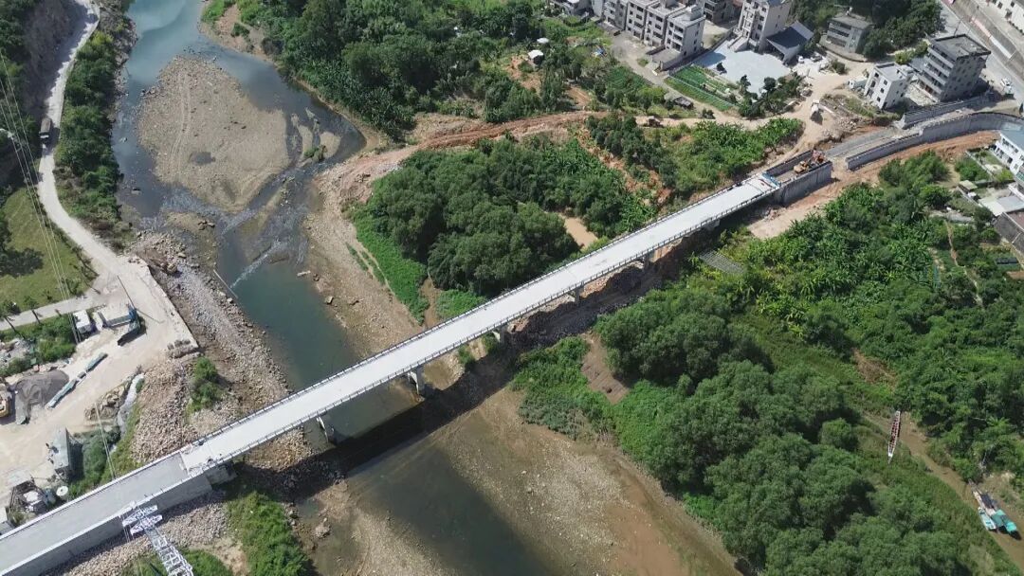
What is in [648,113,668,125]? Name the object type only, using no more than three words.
vehicle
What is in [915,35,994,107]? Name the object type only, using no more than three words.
building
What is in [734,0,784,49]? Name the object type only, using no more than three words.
house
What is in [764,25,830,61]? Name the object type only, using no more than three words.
building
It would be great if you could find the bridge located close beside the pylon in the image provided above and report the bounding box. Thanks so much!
[179,171,781,482]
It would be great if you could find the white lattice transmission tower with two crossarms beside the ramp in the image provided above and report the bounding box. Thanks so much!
[120,508,198,576]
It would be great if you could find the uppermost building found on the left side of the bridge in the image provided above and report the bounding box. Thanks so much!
[72,308,95,335]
